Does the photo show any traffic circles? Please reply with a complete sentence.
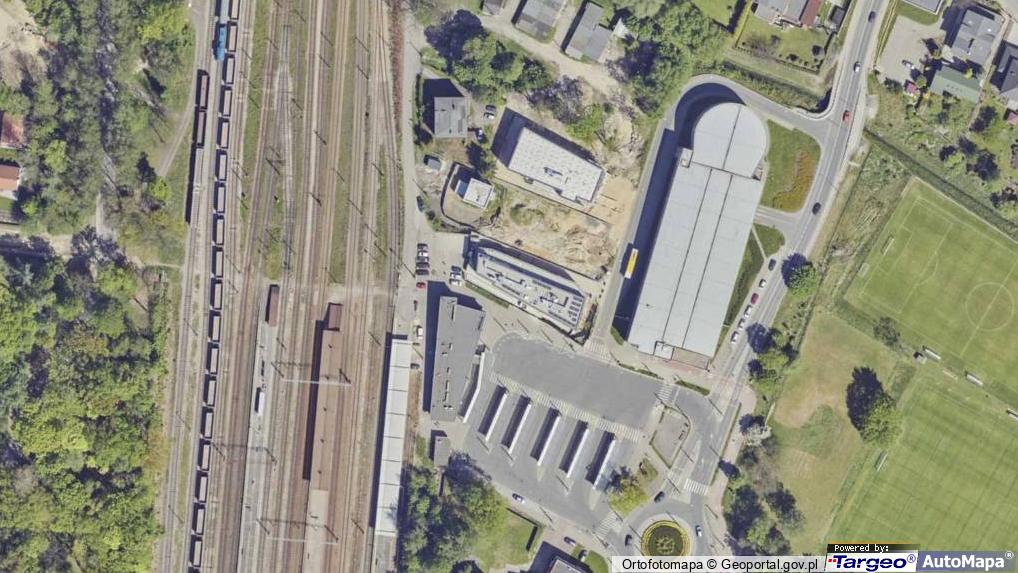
Yes, you can see a traffic circle in this photo.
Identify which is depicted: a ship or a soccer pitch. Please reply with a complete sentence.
Of the two, only a soccer pitch appears.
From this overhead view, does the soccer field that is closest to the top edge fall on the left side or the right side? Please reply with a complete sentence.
The soccer field that is closest to the top edge is on the right side of the image.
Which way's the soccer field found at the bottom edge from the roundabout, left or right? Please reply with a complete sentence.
Looking at the photo, the soccer field found at the bottom edge lies to the right of the roundabout.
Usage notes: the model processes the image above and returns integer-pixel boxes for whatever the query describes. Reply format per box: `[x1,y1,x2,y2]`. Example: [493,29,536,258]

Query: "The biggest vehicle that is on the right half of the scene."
[624,248,638,279]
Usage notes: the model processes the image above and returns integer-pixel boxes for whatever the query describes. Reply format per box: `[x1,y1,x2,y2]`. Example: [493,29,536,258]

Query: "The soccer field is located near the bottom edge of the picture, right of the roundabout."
[814,364,1018,573]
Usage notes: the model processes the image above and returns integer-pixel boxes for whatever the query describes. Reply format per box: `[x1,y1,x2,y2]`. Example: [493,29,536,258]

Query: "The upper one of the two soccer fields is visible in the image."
[842,177,1018,420]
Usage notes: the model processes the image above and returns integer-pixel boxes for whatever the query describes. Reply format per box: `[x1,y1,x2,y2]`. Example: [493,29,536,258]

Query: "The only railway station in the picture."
[238,286,411,573]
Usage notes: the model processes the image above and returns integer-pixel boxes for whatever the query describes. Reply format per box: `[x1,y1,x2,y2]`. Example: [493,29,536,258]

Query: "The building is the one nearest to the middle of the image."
[466,243,586,339]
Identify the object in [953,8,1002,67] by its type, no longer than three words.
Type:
house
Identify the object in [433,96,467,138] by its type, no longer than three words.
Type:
house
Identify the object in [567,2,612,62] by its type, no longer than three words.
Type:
shed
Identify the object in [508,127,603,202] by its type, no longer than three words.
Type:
building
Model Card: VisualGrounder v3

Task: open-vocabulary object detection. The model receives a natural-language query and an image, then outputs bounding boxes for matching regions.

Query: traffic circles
[621,497,713,571]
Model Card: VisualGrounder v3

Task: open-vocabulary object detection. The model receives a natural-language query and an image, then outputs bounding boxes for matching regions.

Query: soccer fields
[842,177,1018,420]
[814,364,1018,573]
